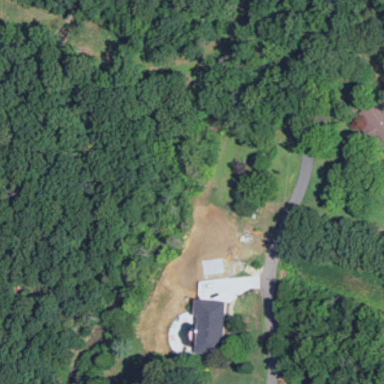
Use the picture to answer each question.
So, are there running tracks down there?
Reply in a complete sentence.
No, there isn't any running track down there.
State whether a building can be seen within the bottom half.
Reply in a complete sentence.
Yes, there is a building within the bottom half.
